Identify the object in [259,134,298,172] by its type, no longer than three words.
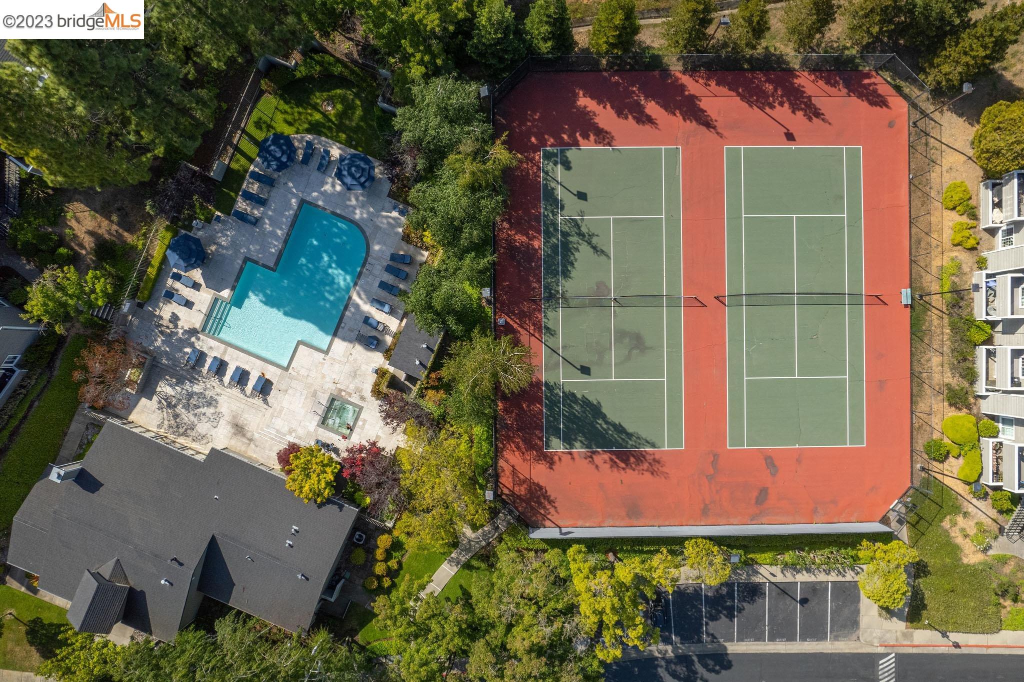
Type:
umbrella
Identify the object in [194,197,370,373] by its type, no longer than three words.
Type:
swimming pool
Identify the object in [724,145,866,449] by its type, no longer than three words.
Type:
tennis court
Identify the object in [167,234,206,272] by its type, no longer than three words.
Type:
umbrella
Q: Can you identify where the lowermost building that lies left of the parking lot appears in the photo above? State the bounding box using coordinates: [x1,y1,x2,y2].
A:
[7,418,359,644]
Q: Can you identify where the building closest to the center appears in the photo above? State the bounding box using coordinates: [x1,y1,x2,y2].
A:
[388,318,443,380]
